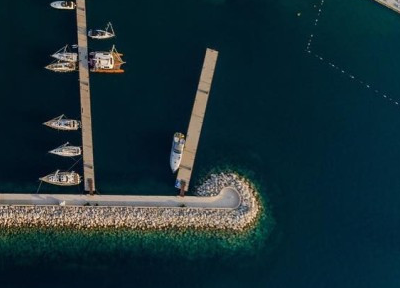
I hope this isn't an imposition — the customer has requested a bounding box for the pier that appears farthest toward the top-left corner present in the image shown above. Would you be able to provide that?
[75,0,95,198]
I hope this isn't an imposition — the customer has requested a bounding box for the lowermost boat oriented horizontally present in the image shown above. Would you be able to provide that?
[40,172,81,186]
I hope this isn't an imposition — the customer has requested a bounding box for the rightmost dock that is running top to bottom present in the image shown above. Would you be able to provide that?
[175,48,218,197]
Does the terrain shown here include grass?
No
